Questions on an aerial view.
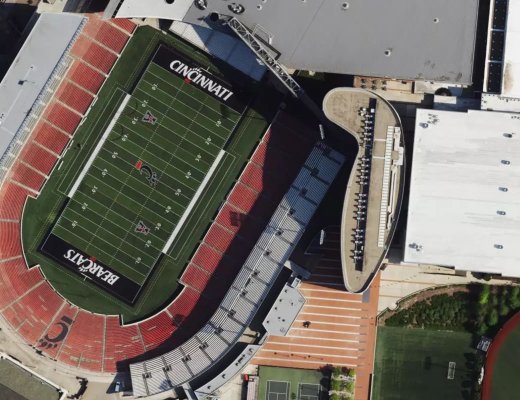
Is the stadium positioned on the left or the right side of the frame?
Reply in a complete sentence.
The stadium is on the left side of the image.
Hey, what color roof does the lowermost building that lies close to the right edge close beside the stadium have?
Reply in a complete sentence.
The roof of the lowermost building that lies close to the right edge close beside the stadium is white.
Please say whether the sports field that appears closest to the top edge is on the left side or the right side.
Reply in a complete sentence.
It is on the left.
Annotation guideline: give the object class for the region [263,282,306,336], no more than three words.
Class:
building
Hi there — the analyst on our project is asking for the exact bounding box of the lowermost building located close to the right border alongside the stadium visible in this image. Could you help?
[402,109,520,278]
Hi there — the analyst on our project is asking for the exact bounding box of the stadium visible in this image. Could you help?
[0,2,347,398]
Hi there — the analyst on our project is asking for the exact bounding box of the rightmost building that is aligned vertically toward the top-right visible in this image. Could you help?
[481,0,520,96]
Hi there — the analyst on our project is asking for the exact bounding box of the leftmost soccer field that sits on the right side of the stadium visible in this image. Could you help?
[373,328,484,400]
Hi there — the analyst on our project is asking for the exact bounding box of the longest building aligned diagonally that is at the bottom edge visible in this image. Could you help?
[194,344,261,395]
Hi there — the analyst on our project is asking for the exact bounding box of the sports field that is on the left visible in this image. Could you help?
[22,26,281,327]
